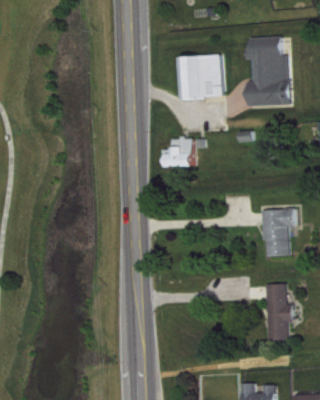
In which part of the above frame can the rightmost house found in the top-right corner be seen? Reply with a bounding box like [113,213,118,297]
[244,36,293,106]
